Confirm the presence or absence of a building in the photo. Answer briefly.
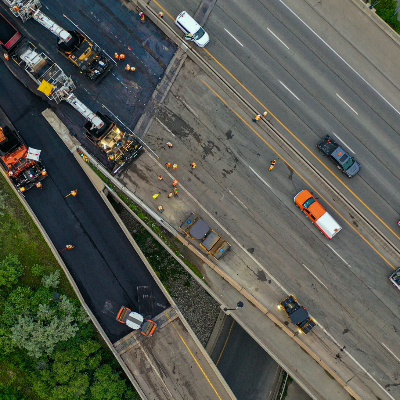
No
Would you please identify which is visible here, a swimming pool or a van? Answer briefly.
van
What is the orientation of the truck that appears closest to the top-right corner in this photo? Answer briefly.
on a diagonal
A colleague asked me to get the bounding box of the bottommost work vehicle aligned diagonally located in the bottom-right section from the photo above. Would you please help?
[278,293,318,336]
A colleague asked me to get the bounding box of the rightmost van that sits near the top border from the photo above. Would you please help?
[175,10,211,49]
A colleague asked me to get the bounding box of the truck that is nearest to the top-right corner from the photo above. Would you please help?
[315,134,360,178]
